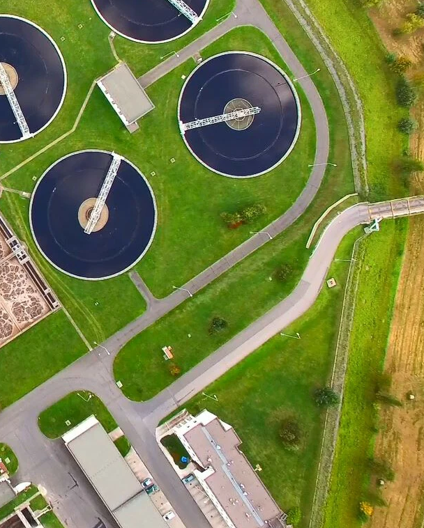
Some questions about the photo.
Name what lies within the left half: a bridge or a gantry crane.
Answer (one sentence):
Looking within the left half, you will find a bridge.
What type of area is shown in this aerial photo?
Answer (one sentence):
The picture captures an industrial area.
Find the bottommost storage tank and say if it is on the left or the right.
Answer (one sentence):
The bottommost storage tank is on the left side of the image.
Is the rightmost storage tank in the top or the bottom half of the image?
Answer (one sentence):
The rightmost storage tank is in the top half of the image.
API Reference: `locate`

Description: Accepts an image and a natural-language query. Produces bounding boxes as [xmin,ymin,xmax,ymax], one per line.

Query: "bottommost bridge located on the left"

[84,153,123,233]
